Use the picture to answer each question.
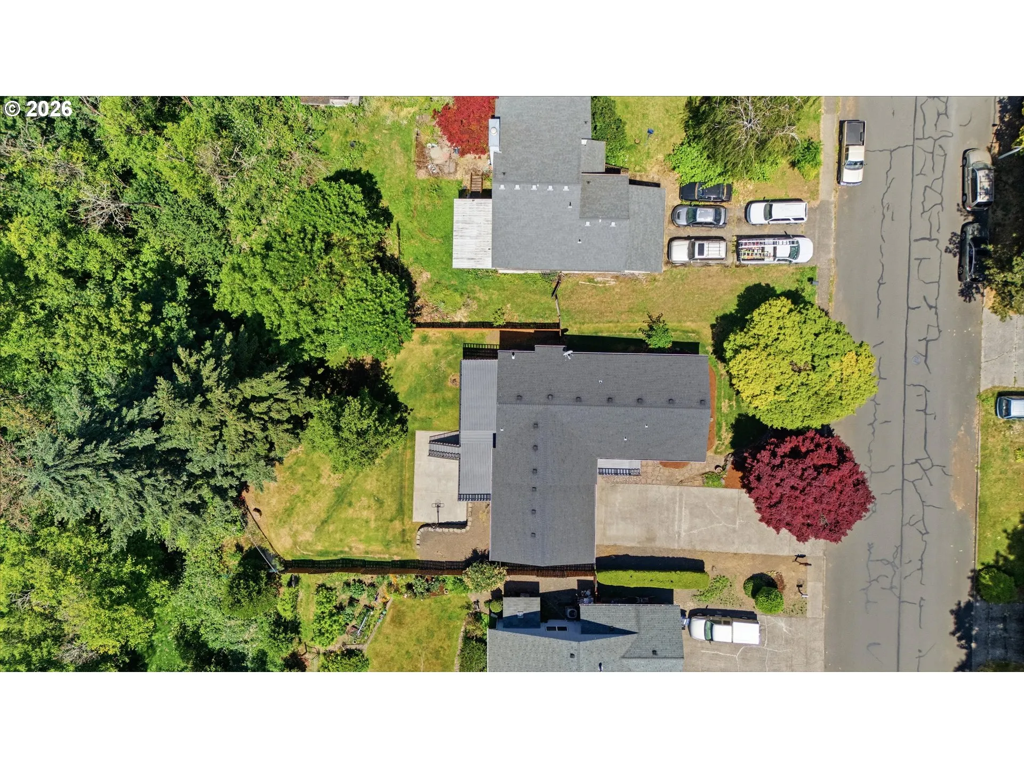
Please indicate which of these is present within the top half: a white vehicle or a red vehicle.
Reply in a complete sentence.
The one visible within the top half is a white vehicle.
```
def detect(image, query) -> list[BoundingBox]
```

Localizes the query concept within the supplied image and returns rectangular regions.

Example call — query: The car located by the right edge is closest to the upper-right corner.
[959,152,994,212]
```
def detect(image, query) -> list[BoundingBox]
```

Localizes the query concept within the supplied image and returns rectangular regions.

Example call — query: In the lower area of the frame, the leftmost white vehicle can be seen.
[686,613,763,644]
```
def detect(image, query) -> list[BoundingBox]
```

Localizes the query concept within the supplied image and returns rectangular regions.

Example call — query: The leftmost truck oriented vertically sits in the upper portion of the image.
[837,120,868,187]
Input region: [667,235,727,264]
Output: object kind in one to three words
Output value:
car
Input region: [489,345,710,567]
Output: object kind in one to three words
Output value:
house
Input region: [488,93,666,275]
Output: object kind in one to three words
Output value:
house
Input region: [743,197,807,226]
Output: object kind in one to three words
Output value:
car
